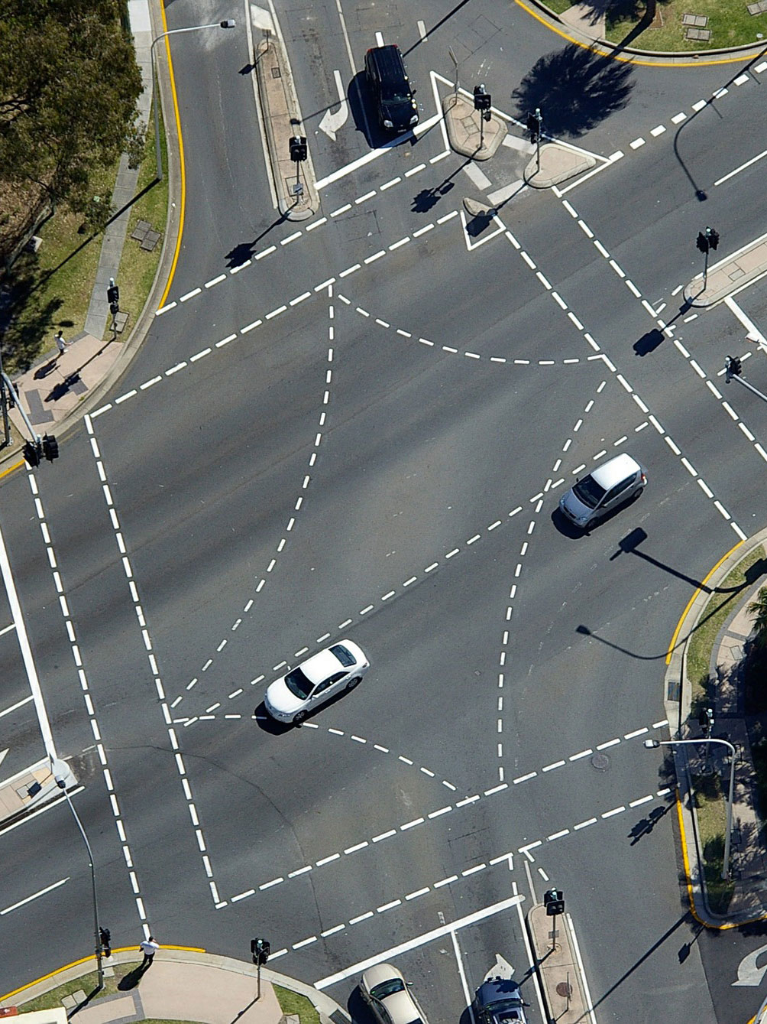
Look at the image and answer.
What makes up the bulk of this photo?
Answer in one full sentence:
The largest share of the image is taken up by paved ground.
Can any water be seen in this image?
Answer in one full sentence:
No, there's no water in this view.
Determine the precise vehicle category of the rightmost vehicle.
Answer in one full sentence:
The rightmost vehicle in the image is an automobile.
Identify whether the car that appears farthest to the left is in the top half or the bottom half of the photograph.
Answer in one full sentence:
Seen from above, the car that appears farthest to the left lies in the bottom half of the view.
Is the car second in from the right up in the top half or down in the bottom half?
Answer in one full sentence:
You can find the car second in from the right in the bottom half.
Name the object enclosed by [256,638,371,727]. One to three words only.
car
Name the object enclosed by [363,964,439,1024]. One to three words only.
car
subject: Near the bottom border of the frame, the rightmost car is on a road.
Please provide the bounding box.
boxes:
[473,972,531,1024]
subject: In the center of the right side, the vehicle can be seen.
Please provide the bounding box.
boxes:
[559,454,648,530]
